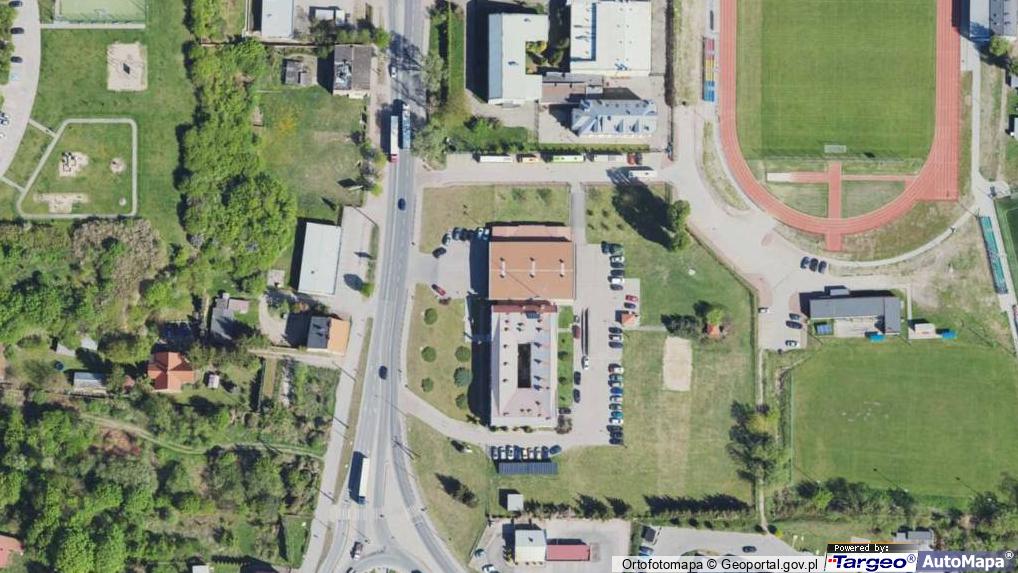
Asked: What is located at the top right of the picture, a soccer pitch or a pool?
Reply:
soccer pitch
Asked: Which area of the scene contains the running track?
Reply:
top right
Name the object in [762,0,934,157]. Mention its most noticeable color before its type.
green soccer field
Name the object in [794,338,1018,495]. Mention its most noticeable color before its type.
green soccer field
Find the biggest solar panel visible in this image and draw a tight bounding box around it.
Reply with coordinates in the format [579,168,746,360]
[498,463,558,476]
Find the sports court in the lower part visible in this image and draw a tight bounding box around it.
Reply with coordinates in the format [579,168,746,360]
[663,336,691,390]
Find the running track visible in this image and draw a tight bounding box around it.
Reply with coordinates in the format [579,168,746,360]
[720,0,960,250]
